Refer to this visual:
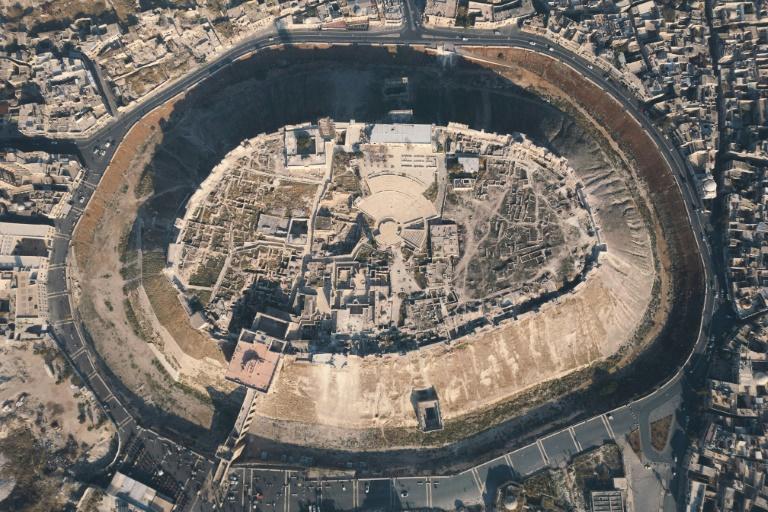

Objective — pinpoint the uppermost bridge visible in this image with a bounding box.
[219,386,260,444]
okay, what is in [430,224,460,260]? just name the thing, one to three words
building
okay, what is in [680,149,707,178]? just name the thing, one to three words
building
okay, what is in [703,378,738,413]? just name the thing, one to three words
house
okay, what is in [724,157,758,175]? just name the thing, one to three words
house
